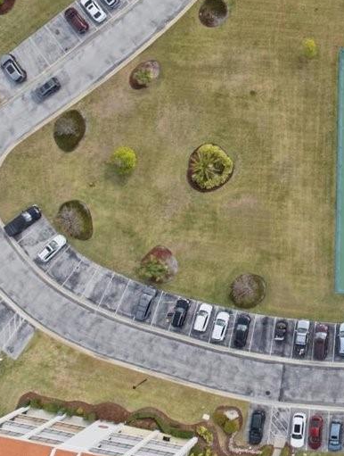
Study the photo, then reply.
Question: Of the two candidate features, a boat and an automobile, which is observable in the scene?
automobile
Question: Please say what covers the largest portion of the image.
grass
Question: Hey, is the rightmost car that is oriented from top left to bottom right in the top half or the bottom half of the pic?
top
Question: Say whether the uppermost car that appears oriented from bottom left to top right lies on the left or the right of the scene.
left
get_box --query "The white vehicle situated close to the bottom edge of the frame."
[289,415,304,449]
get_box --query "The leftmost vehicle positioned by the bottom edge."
[247,412,265,447]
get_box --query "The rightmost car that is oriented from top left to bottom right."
[77,0,106,23]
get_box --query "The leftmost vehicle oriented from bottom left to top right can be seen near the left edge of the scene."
[0,207,40,238]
